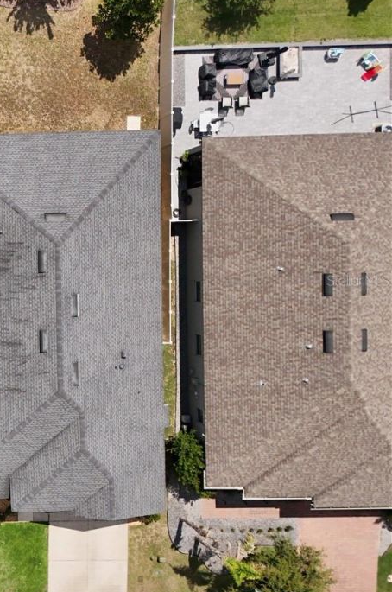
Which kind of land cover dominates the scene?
buildings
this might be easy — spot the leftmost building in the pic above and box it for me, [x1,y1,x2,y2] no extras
[0,130,168,521]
